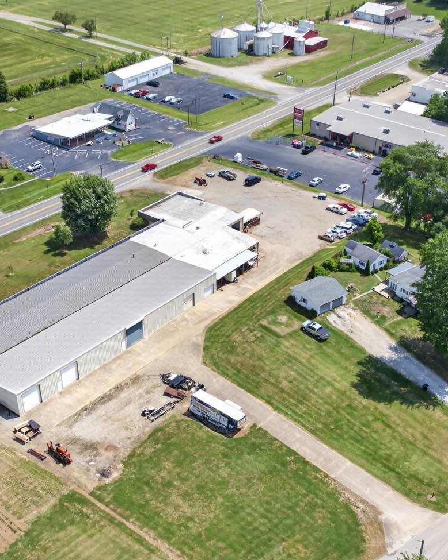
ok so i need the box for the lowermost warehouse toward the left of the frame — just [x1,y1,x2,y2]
[0,187,263,416]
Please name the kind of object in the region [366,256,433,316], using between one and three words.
house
